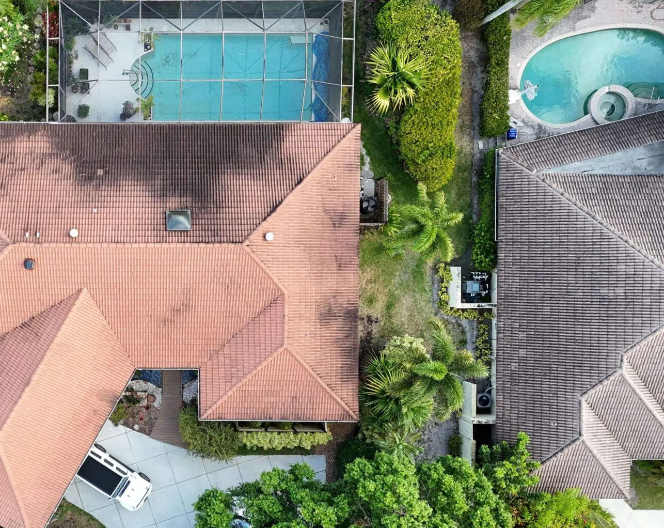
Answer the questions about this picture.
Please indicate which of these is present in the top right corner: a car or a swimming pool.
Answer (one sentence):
What appears in the top right corner is a swimming pool.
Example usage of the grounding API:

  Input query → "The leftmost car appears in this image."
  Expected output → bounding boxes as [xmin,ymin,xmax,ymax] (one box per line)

[81,442,156,508]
